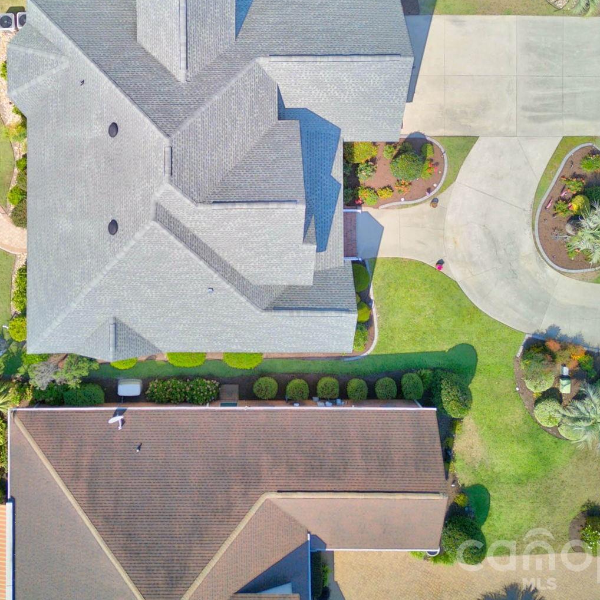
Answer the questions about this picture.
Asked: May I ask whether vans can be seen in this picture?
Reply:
No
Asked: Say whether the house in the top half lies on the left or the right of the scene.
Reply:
left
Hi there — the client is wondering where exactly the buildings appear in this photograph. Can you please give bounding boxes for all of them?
[6,0,414,363]
[7,398,448,600]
